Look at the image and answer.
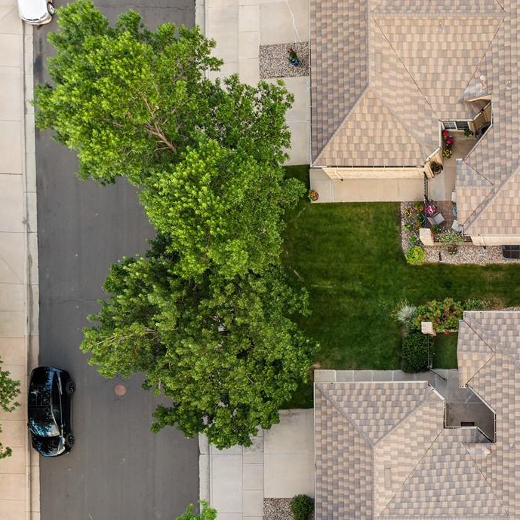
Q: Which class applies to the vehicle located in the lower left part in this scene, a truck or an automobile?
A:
automobile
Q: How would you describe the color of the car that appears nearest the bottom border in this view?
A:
black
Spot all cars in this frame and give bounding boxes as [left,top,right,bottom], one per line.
[9,0,54,18]
[24,368,77,458]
